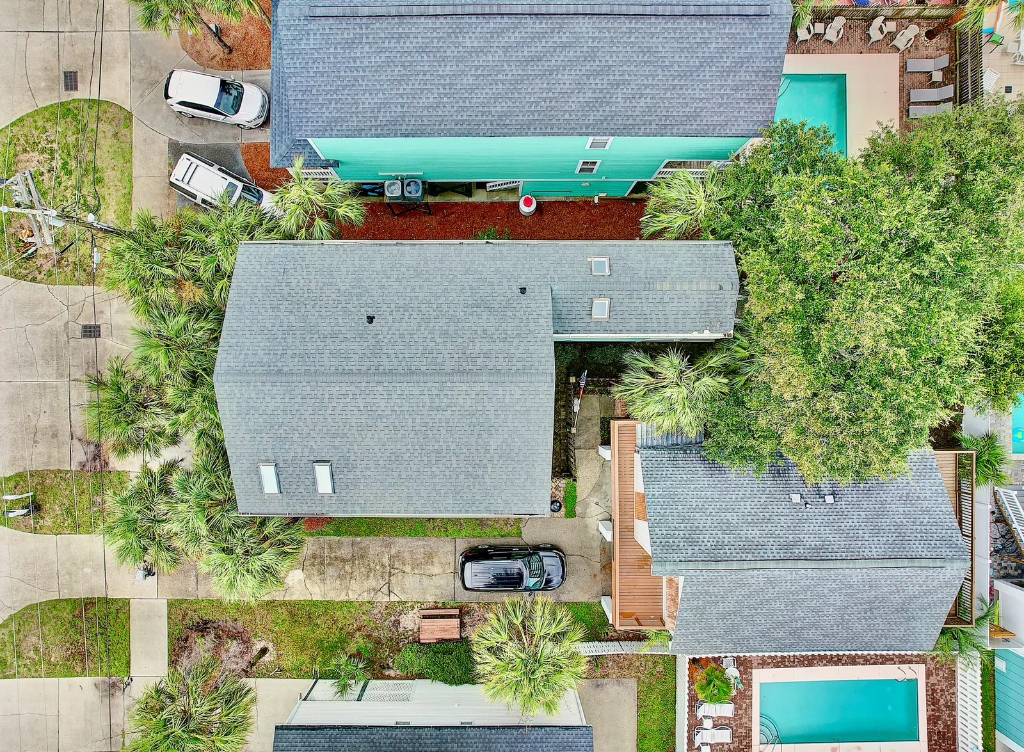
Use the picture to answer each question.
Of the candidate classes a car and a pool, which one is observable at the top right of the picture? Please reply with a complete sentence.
You can see a pool at the top right of the picture.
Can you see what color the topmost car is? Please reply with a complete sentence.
From above, the topmost car appears white.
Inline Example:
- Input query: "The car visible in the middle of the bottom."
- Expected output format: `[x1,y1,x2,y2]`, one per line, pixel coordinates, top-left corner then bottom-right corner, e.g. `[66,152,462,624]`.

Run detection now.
[456,544,568,598]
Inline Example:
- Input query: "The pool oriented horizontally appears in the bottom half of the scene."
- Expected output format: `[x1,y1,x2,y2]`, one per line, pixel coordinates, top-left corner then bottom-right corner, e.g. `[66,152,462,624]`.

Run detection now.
[752,664,929,752]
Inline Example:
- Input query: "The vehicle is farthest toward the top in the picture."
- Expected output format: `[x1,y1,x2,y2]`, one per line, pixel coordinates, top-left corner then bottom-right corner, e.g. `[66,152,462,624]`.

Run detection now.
[162,65,272,131]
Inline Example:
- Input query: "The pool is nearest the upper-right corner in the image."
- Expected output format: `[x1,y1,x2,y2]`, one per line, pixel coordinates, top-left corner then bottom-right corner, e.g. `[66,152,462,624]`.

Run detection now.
[737,54,899,270]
